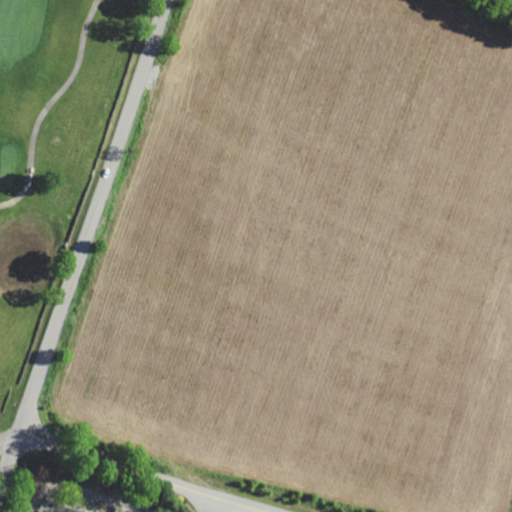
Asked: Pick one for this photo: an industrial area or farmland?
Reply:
farmland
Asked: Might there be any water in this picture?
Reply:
No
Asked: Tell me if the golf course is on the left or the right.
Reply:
left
